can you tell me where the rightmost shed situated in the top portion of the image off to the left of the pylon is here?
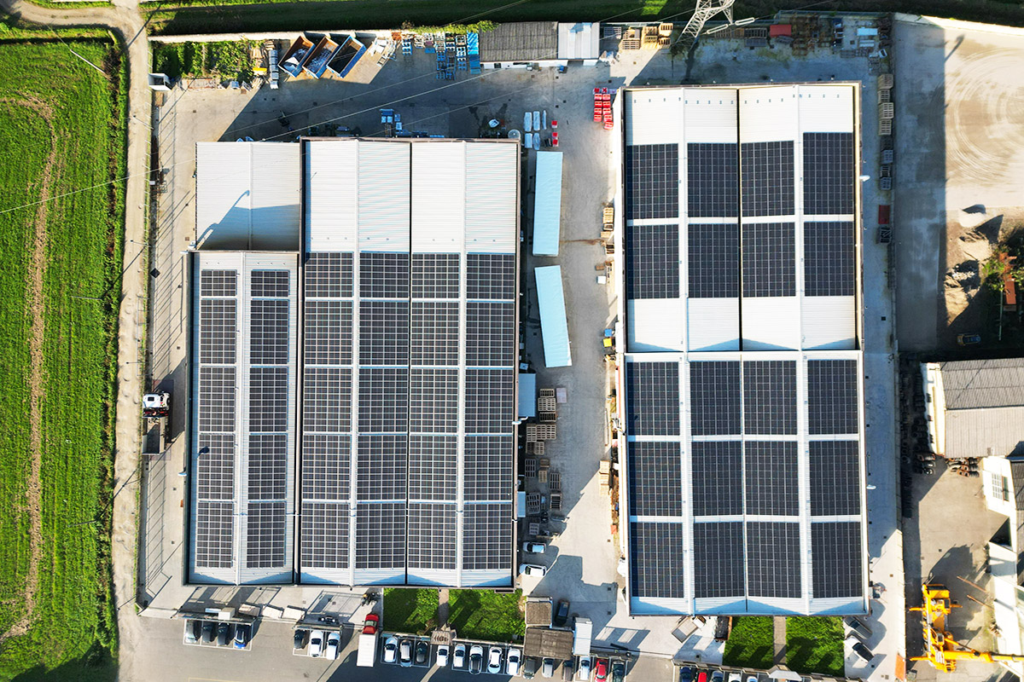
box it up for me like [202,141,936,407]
[558,21,599,67]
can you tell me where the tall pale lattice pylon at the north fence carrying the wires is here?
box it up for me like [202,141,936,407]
[668,0,731,61]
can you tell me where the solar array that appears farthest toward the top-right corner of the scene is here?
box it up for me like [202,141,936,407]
[804,132,853,214]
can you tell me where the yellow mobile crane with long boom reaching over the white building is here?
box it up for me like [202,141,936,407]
[908,589,1022,672]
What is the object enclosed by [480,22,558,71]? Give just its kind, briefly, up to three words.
shed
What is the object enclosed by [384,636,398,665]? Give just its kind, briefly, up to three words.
car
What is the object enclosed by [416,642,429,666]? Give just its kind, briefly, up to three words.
vehicle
